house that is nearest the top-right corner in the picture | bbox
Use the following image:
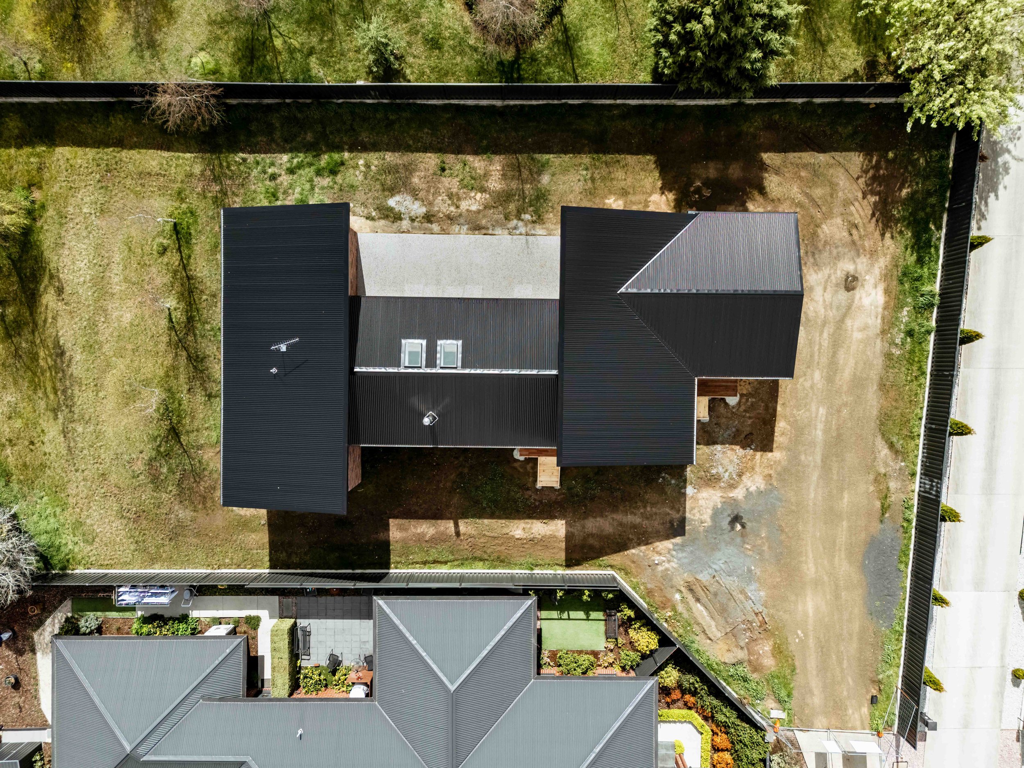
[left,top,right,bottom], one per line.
[220,202,804,515]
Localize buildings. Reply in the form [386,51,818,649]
[220,202,804,515]
[0,741,43,768]
[48,590,660,768]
